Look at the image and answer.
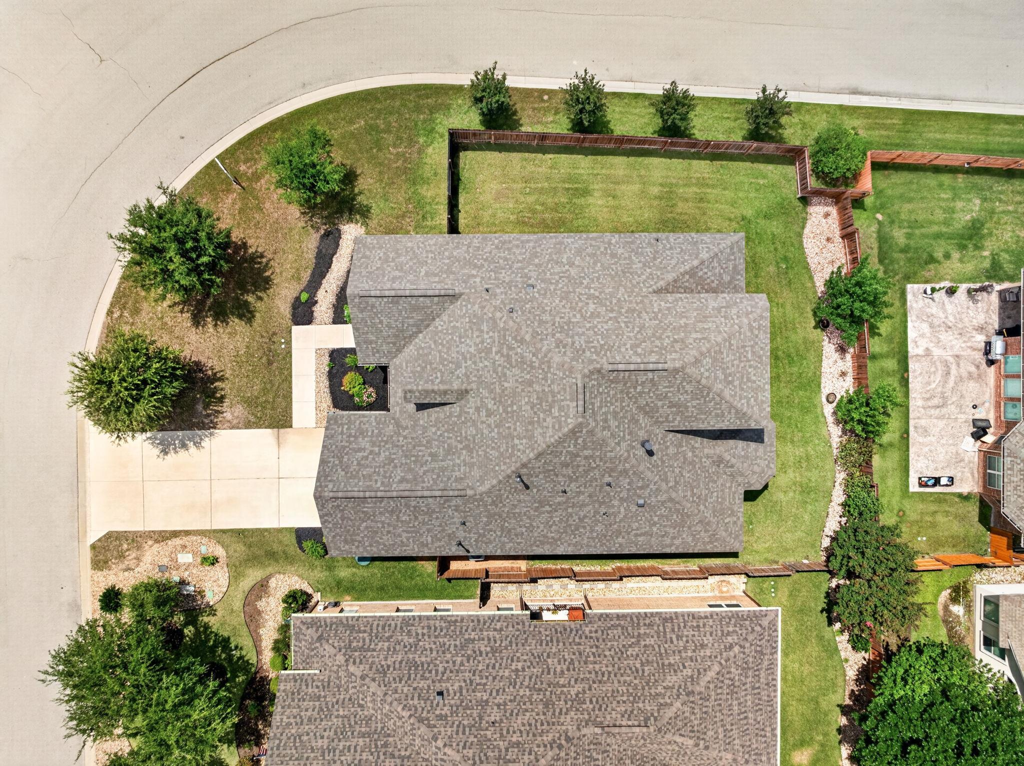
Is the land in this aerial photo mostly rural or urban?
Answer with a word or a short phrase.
urban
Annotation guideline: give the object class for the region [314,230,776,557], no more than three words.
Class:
house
